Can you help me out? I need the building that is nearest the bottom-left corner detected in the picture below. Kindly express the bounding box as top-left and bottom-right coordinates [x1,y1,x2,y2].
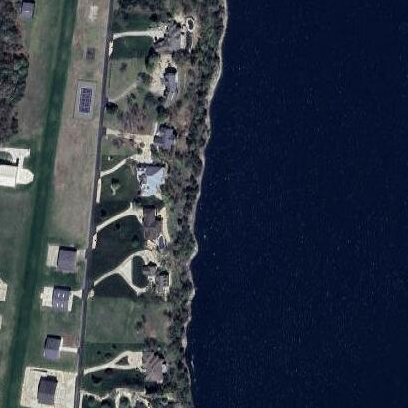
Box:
[37,379,57,404]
